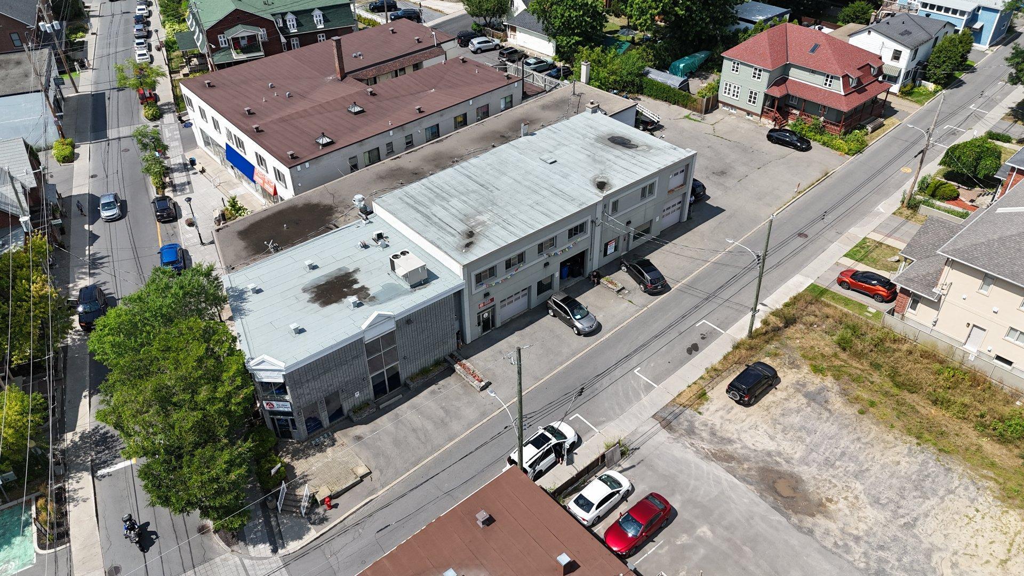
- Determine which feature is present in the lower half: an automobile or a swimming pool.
automobile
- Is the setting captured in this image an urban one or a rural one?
urban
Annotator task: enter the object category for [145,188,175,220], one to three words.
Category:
car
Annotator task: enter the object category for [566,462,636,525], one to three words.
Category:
car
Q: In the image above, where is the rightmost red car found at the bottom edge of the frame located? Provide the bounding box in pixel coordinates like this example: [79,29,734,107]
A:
[605,481,675,556]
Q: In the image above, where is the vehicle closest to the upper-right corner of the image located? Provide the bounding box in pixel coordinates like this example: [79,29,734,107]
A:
[764,124,814,148]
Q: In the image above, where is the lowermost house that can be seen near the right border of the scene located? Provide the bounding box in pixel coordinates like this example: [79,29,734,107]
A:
[890,183,1024,375]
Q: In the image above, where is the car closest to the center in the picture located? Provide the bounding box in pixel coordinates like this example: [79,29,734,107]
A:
[543,285,601,334]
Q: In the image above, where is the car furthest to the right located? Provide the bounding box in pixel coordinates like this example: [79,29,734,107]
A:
[836,267,901,303]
